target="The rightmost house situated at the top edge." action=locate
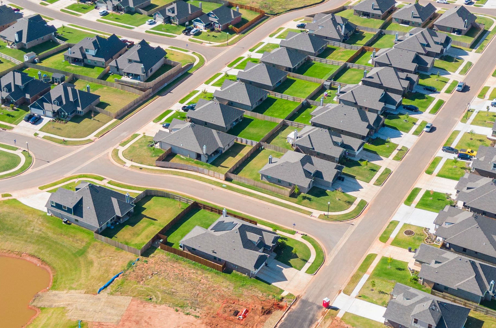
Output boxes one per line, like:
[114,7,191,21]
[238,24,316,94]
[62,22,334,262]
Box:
[435,9,477,39]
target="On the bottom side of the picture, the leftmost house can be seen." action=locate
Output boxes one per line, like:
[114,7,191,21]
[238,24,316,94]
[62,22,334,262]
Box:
[43,181,135,234]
